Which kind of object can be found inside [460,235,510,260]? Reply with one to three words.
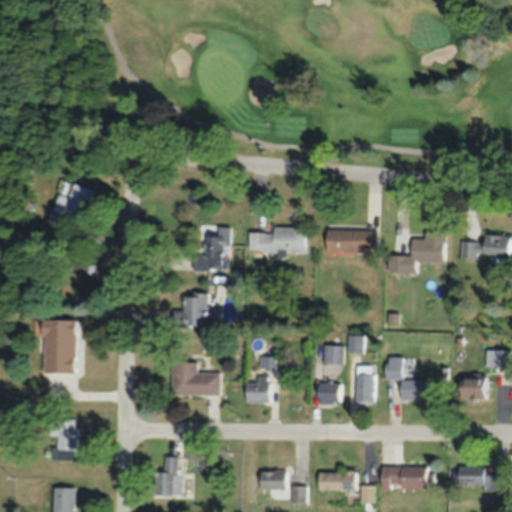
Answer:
house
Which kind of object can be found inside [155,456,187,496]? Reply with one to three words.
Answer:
house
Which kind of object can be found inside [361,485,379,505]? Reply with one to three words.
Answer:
building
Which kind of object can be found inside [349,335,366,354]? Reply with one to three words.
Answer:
building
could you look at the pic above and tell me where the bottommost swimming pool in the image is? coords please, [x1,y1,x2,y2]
[252,337,266,352]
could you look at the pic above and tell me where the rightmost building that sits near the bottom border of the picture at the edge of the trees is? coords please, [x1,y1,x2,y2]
[456,467,486,488]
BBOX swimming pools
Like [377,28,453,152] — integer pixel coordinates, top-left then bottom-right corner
[252,337,266,352]
[426,279,439,292]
